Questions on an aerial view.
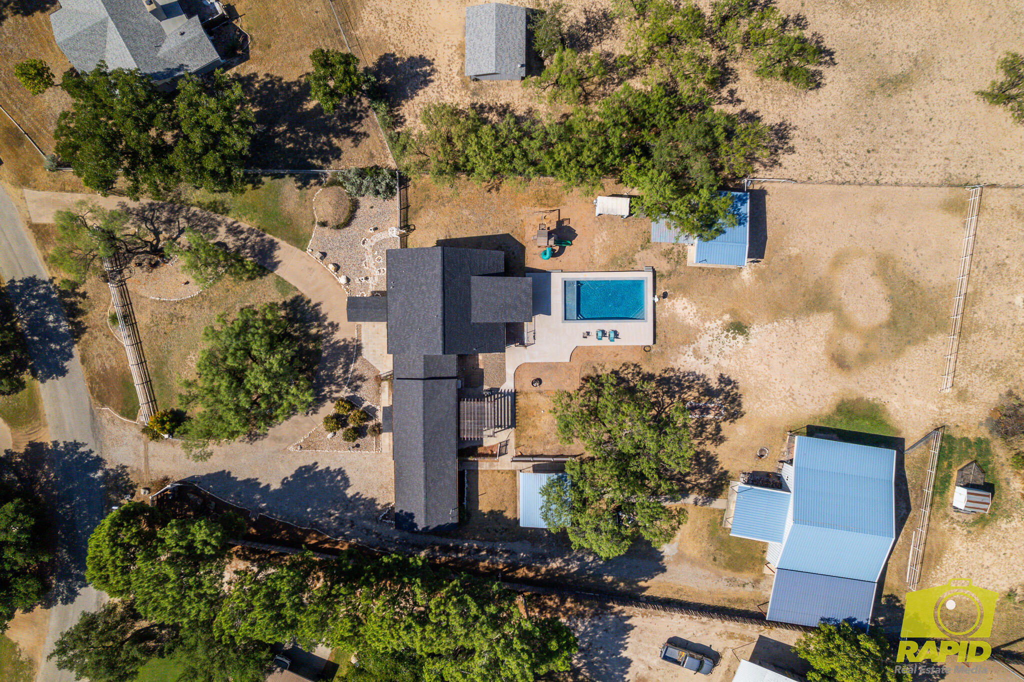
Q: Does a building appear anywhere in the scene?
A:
Yes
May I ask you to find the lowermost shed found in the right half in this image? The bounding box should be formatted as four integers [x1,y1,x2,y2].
[731,647,798,682]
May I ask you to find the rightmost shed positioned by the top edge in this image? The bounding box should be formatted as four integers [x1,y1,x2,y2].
[465,1,525,80]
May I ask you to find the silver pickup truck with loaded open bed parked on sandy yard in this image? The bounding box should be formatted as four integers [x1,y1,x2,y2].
[656,641,717,678]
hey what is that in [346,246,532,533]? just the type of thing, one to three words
house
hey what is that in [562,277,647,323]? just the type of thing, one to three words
swimming pool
